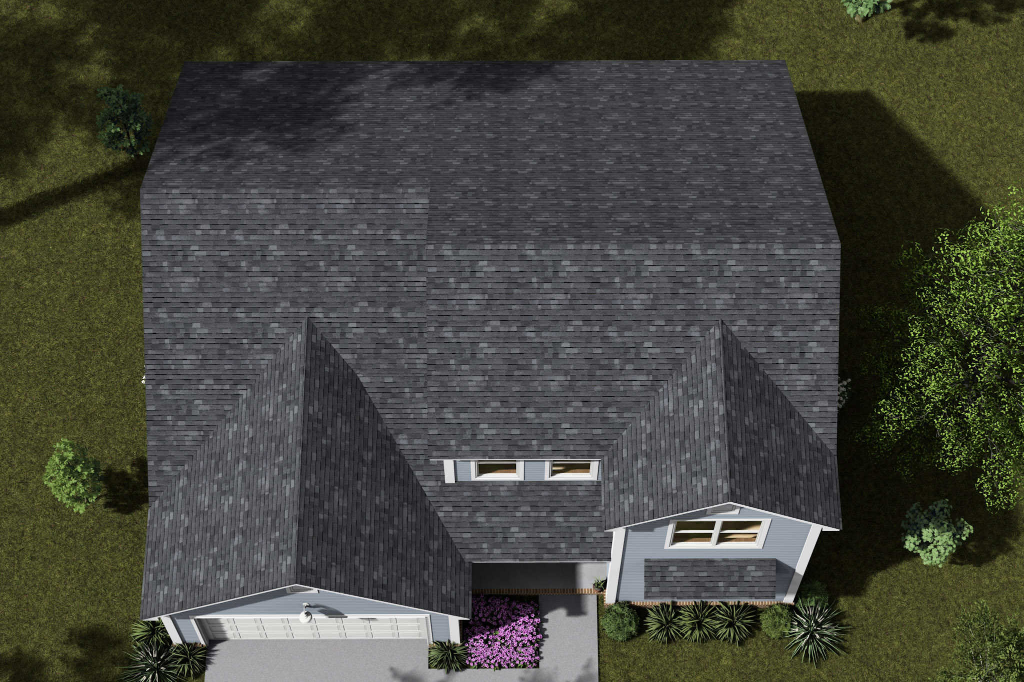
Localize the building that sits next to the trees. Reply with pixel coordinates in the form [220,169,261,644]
[140,59,842,649]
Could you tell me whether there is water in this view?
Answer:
No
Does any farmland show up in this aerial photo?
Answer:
No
